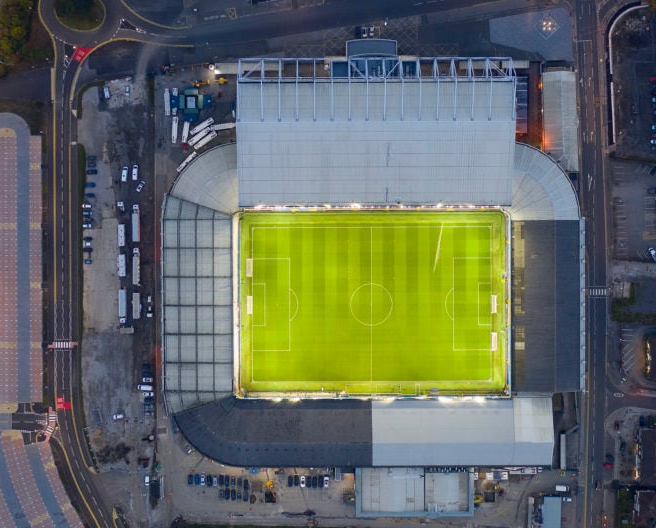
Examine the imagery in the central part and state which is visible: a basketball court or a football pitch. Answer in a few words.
football pitch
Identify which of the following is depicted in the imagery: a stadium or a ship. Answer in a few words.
stadium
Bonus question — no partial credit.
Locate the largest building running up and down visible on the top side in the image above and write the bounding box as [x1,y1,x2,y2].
[539,71,579,172]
